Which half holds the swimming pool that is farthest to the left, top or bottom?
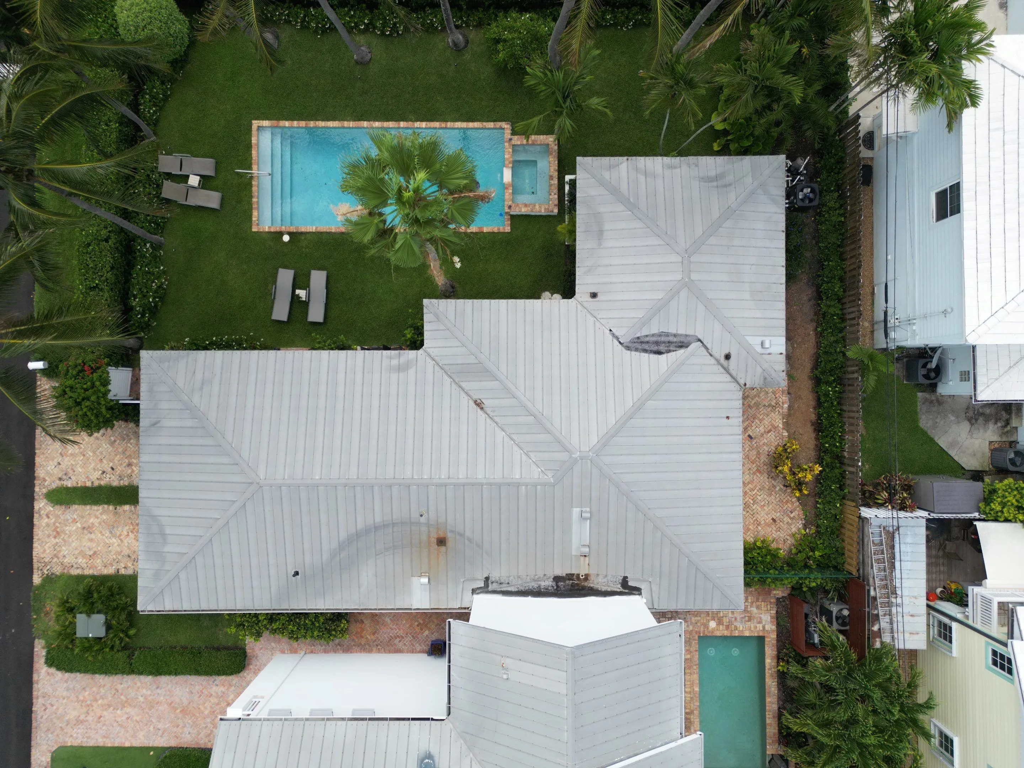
top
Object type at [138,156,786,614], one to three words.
house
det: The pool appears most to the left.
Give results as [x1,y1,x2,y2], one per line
[251,120,510,232]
